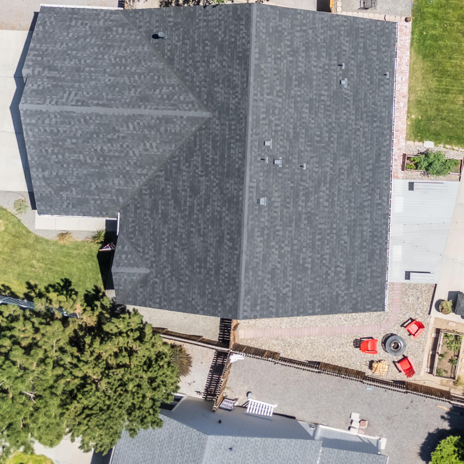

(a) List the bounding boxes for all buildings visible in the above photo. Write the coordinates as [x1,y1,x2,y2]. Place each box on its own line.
[103,390,391,464]
[18,1,404,320]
